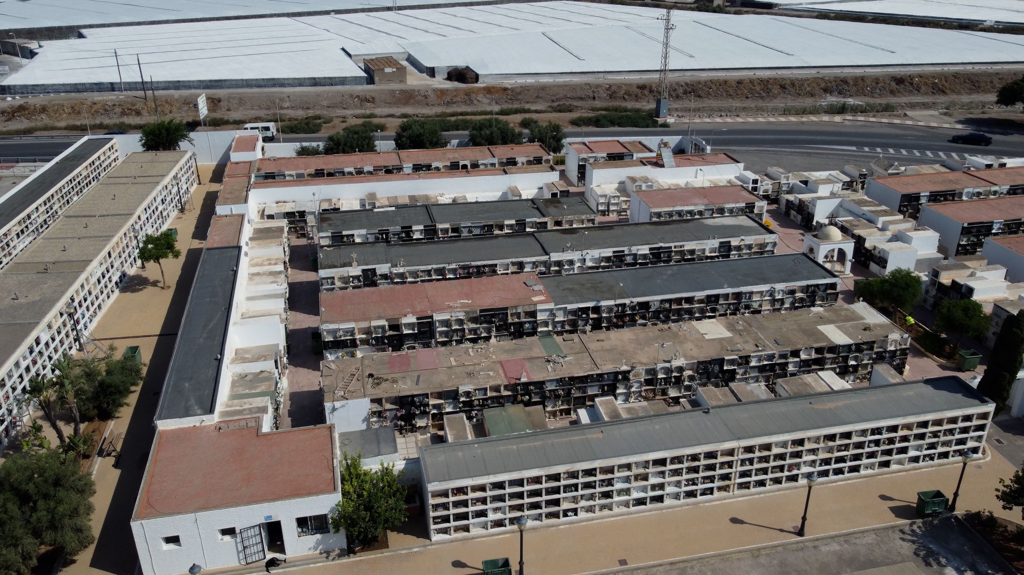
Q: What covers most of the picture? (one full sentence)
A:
The largest share of the image is taken up by buildings.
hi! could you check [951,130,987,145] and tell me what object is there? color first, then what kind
black car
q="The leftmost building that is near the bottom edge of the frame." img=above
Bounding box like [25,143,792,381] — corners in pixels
[129,417,347,575]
